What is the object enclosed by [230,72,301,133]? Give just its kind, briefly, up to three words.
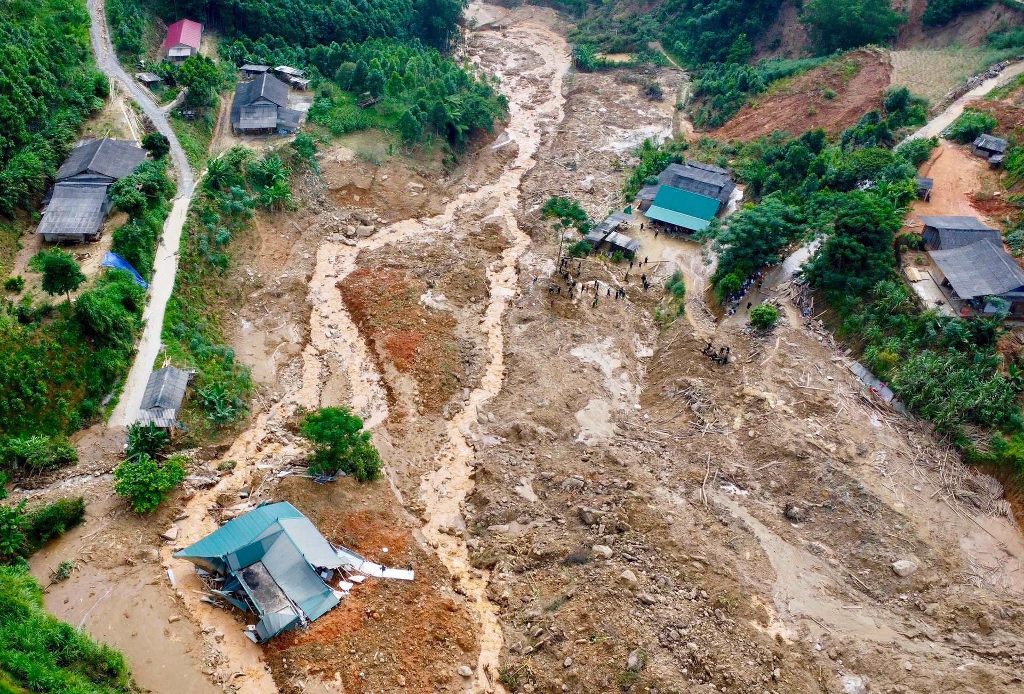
house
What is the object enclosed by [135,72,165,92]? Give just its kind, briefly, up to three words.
shed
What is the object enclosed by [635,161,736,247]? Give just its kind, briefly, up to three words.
house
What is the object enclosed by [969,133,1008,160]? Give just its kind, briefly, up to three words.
shed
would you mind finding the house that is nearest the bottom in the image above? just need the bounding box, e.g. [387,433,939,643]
[173,501,359,643]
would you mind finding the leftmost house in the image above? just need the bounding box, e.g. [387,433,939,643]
[36,137,146,244]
